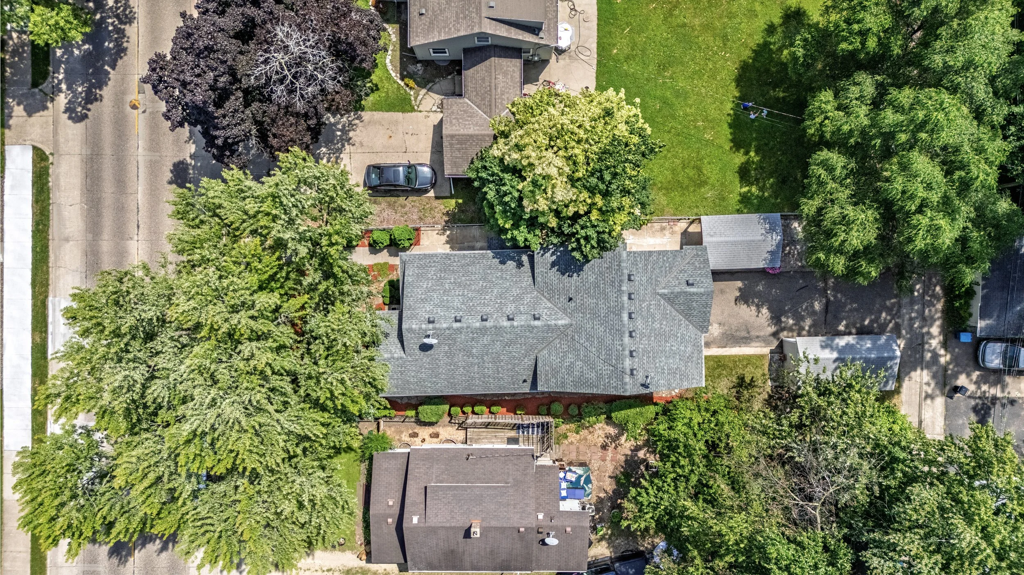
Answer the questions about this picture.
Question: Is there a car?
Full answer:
Yes, the frame does contain a car.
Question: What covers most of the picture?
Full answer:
Most of the picture is covered by trees.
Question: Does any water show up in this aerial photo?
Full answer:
No, the scene doesn't show any water.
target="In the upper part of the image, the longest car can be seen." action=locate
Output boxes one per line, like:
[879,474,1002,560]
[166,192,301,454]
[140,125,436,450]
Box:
[365,161,437,195]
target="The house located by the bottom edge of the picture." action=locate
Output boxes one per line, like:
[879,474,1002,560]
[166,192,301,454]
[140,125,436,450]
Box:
[370,443,589,574]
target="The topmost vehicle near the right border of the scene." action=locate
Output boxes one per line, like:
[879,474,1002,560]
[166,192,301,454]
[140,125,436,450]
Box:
[976,338,1024,373]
